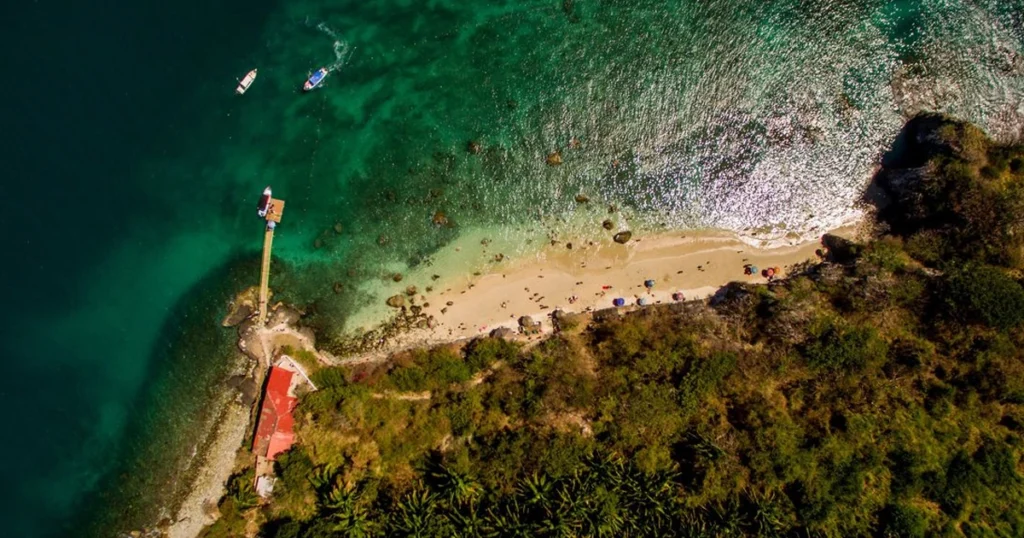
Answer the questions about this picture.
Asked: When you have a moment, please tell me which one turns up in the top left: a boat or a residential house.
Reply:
boat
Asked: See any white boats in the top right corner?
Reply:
No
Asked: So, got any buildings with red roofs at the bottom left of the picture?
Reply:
Yes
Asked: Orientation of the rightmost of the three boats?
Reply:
on a diagonal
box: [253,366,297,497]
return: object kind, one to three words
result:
house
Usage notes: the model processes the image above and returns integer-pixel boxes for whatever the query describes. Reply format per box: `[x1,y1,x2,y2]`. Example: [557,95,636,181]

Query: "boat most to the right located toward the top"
[303,66,328,88]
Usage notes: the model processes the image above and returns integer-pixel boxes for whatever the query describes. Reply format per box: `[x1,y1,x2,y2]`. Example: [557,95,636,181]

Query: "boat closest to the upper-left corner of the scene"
[235,69,256,94]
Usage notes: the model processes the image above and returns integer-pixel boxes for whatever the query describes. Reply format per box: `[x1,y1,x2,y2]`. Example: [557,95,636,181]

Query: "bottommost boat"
[257,186,270,218]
